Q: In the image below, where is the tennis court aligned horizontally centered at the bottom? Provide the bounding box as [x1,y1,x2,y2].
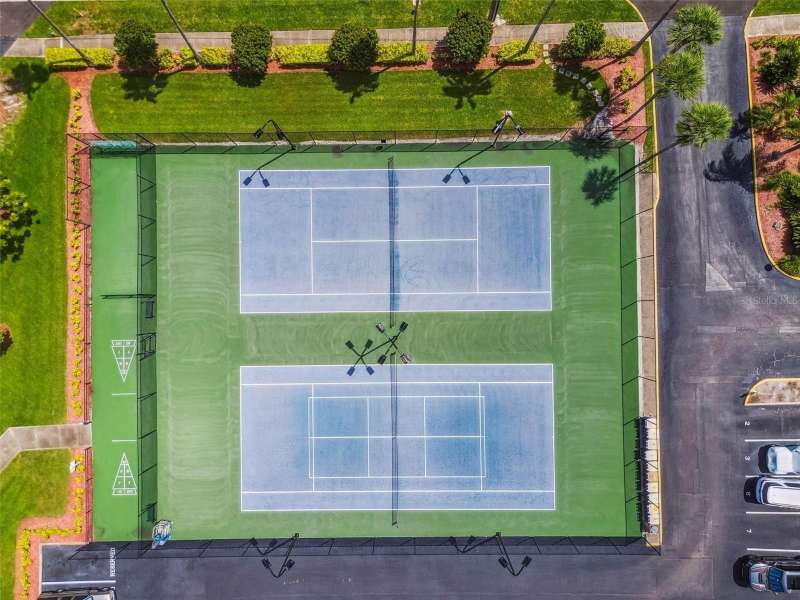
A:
[240,364,555,512]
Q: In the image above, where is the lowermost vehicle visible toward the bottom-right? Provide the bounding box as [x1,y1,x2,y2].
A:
[744,558,800,595]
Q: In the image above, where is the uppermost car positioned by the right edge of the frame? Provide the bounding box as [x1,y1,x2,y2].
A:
[764,445,800,477]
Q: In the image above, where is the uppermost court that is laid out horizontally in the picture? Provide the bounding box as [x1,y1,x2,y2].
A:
[239,166,552,313]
